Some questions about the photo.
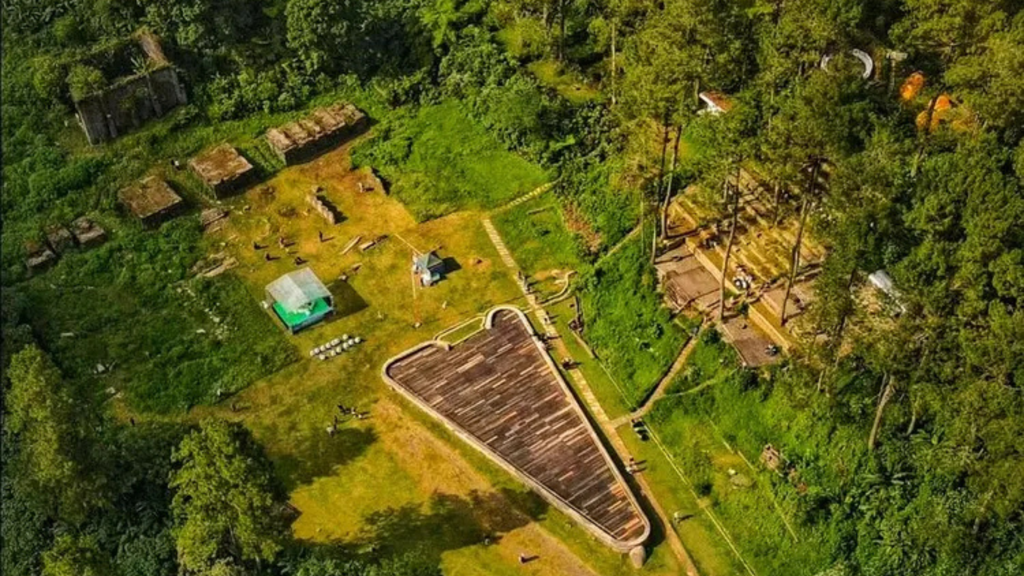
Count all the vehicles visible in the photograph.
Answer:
none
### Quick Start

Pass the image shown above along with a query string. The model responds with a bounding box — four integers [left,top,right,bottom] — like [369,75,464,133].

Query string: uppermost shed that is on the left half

[266,102,367,166]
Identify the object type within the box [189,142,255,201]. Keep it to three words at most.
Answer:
shed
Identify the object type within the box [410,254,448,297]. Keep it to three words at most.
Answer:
building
